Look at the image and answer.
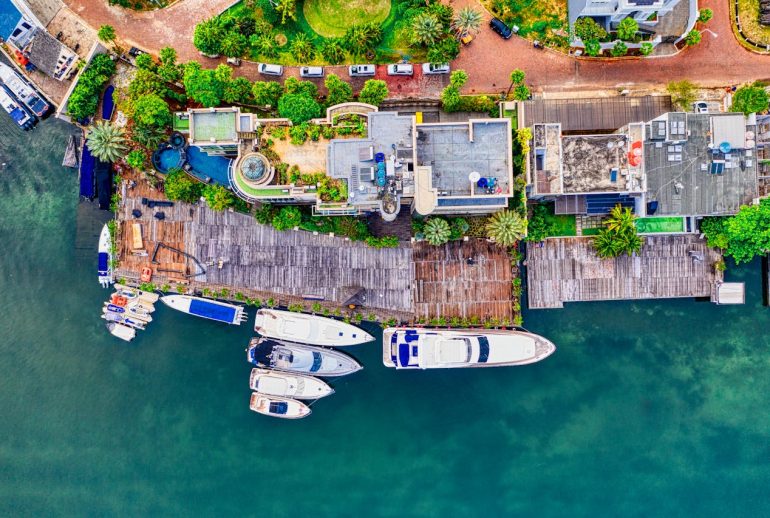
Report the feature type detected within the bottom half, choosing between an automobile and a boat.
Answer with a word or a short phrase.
boat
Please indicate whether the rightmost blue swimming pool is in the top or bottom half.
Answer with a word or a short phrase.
top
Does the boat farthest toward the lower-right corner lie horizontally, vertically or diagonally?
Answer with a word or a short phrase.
horizontally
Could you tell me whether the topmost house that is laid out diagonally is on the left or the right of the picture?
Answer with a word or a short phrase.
left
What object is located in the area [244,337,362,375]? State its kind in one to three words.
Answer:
boat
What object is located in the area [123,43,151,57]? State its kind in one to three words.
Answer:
vehicle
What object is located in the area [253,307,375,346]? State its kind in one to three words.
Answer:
boat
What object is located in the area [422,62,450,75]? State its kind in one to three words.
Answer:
vehicle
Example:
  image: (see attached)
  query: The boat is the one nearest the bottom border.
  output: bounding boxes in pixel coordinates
[248,391,312,417]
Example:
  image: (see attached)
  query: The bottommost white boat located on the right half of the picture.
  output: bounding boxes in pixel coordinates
[383,328,557,370]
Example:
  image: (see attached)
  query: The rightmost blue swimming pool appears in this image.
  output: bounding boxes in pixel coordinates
[184,144,235,189]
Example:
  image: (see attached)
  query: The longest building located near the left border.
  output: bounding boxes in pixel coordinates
[8,17,85,85]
